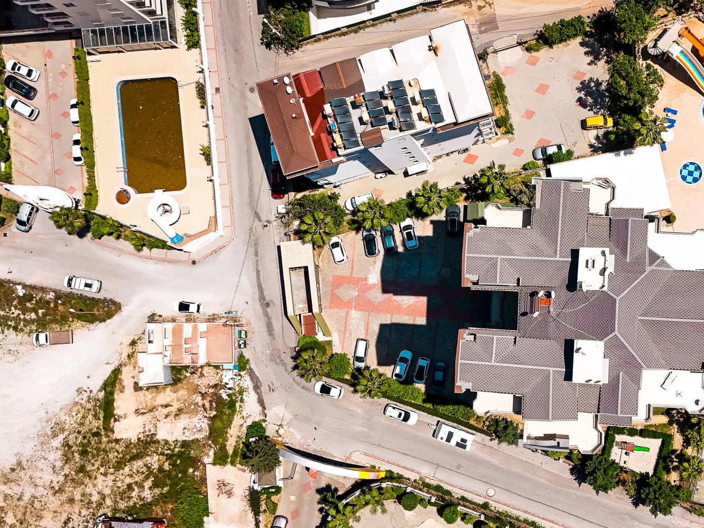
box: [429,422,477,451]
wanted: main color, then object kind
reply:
white camper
